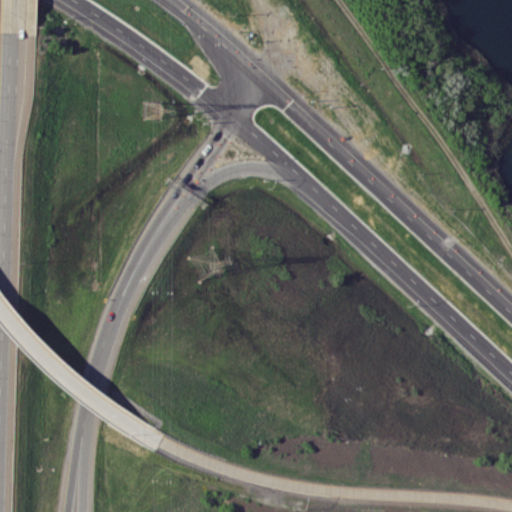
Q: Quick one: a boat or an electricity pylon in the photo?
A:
electricity pylon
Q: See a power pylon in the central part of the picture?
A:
Yes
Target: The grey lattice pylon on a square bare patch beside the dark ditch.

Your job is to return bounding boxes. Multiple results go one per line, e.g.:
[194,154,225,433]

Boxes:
[142,101,177,122]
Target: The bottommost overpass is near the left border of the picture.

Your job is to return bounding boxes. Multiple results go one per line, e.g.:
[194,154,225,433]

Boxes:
[0,290,165,451]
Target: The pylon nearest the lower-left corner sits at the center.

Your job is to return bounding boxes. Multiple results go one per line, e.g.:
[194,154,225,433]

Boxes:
[188,246,233,284]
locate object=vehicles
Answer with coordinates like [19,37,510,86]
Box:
[194,156,206,169]
[18,28,25,40]
[182,172,194,186]
[212,130,223,142]
[106,310,114,323]
[201,143,214,158]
